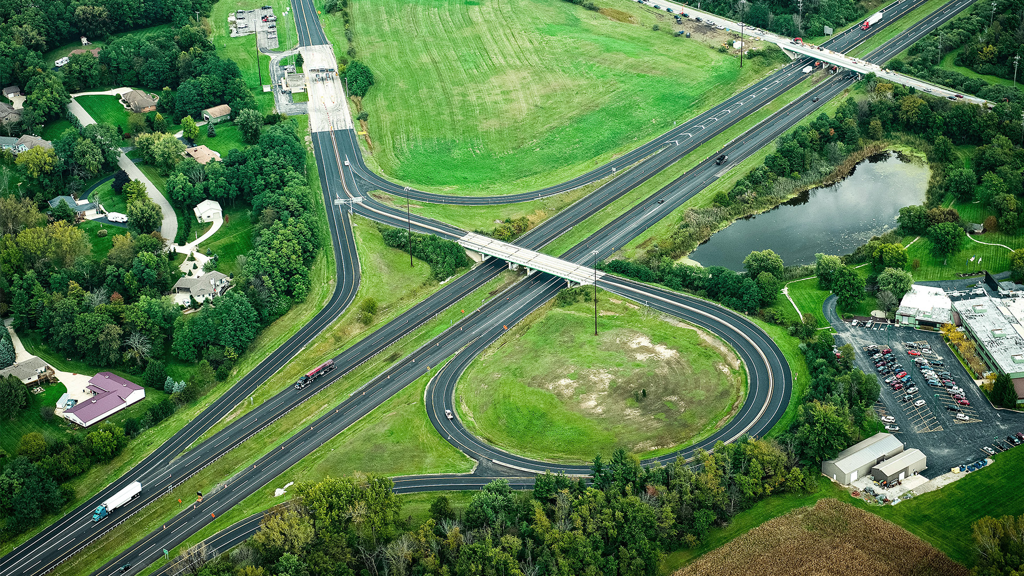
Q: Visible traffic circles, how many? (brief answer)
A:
0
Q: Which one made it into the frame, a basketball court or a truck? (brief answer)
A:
truck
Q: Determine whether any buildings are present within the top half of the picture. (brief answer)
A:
Yes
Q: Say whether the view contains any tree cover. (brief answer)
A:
Yes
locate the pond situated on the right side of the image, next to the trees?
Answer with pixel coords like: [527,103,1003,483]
[691,151,931,268]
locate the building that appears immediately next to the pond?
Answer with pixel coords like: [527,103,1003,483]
[895,265,1024,410]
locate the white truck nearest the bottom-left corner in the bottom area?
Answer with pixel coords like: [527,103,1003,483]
[92,480,140,519]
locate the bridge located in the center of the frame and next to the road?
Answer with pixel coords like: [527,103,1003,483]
[455,229,606,283]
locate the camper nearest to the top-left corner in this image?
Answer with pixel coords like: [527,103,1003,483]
[53,55,70,67]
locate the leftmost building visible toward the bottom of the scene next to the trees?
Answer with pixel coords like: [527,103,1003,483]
[0,357,58,391]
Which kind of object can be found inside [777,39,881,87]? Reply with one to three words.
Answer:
bridge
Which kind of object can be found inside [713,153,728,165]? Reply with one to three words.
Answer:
vehicle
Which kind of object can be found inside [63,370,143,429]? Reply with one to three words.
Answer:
barn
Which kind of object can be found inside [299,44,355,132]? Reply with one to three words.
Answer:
toll station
